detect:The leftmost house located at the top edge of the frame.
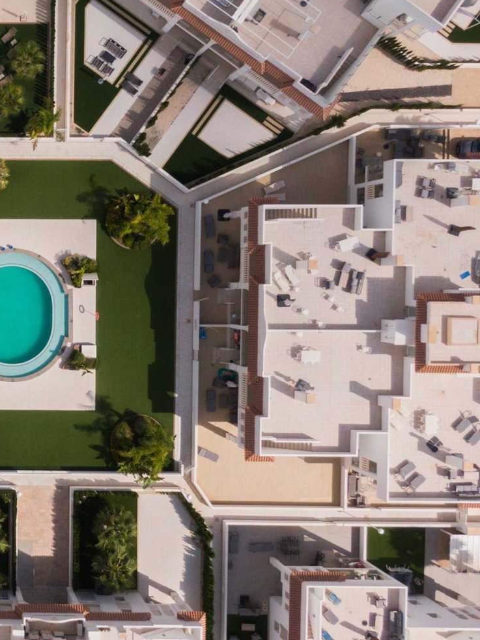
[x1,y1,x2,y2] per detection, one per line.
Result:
[129,0,388,134]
